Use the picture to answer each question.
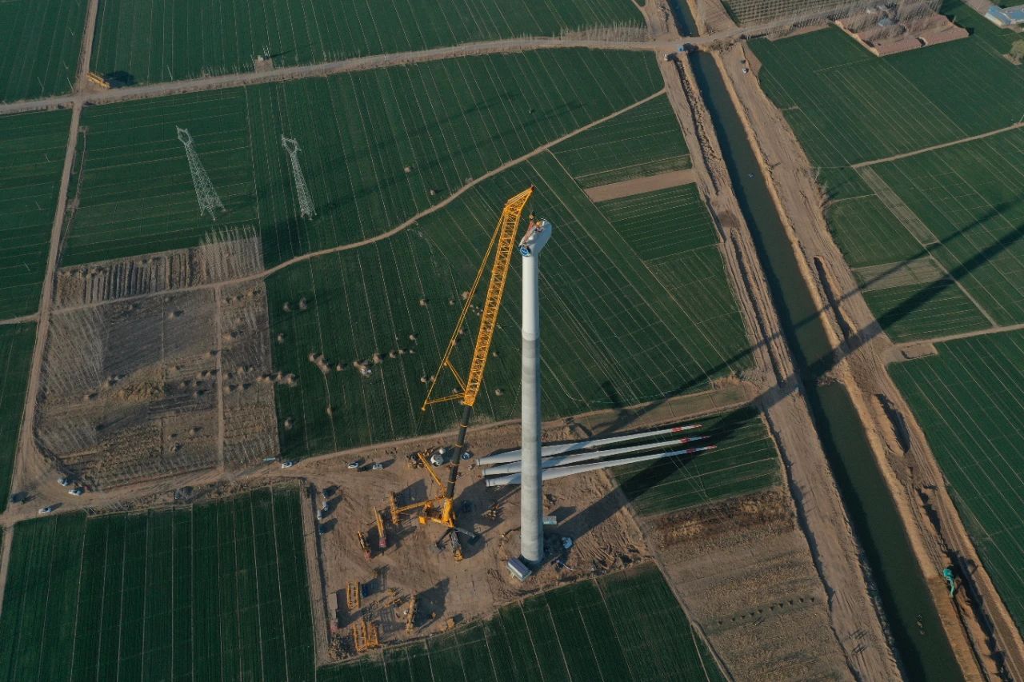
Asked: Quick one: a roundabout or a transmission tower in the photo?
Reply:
transmission tower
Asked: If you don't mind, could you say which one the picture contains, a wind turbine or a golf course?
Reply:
wind turbine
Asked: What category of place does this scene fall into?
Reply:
parking lot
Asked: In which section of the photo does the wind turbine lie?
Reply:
center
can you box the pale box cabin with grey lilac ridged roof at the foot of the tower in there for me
[506,557,531,584]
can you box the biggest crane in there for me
[395,185,535,556]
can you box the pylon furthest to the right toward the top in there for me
[279,132,321,223]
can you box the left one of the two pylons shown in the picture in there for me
[174,123,225,219]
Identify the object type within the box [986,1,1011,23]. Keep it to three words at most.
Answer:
building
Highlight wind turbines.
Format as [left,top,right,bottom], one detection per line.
[517,214,552,566]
